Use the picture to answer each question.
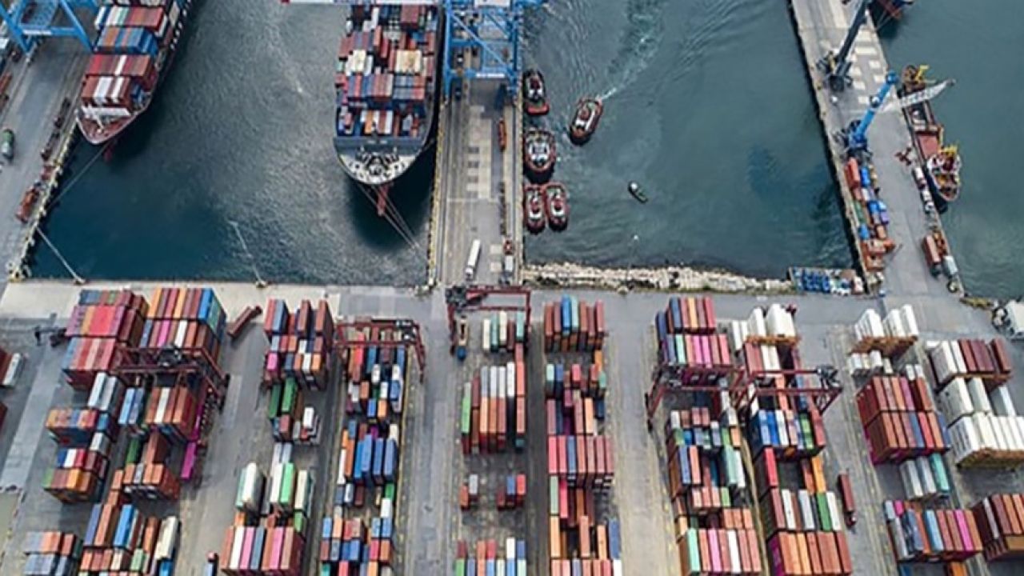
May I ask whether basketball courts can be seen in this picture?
No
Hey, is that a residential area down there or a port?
port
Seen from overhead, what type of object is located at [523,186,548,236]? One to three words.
boat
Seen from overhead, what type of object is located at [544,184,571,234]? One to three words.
boat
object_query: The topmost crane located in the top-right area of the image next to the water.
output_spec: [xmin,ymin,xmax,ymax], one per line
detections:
[818,0,877,95]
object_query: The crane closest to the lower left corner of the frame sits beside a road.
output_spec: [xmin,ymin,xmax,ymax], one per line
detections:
[109,344,230,409]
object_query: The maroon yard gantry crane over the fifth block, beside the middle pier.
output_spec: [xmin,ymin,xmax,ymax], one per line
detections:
[451,285,535,350]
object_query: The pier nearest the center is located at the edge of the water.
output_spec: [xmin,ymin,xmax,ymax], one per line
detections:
[426,4,526,287]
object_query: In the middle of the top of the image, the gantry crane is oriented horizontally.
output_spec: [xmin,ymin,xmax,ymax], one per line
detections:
[270,0,544,104]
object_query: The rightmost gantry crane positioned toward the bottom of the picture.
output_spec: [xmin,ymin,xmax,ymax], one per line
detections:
[734,363,843,428]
